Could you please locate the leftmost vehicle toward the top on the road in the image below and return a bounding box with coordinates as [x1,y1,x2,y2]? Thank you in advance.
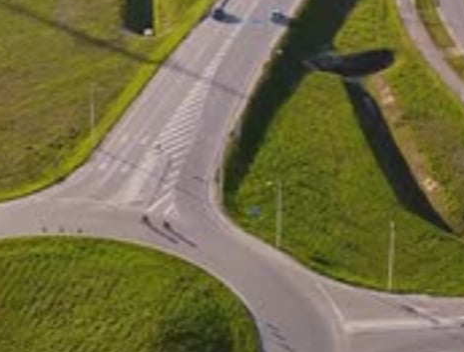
[212,7,227,19]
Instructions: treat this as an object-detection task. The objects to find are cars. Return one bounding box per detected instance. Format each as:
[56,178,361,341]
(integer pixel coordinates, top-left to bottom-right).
[212,7,227,19]
[271,9,285,20]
